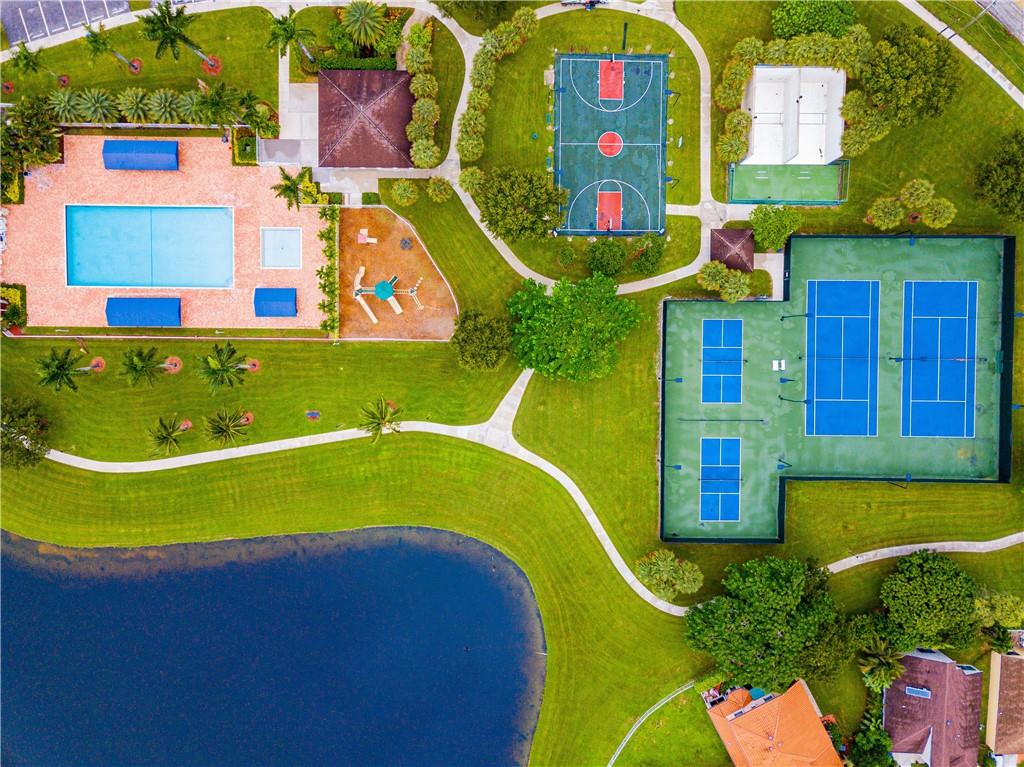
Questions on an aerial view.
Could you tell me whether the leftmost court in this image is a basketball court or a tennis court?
basketball court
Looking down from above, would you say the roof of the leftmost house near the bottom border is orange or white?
orange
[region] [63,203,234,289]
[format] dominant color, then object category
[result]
blue swimming pool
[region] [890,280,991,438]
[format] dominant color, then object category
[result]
blue tennis court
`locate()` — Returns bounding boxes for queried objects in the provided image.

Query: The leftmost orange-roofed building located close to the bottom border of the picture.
[707,673,844,767]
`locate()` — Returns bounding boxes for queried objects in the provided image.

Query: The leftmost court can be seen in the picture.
[554,53,669,235]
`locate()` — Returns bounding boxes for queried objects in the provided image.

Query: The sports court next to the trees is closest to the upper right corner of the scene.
[735,66,845,202]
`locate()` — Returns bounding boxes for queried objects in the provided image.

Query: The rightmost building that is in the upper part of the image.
[707,228,754,272]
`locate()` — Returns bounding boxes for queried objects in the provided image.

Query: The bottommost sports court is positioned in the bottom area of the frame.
[697,438,744,522]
